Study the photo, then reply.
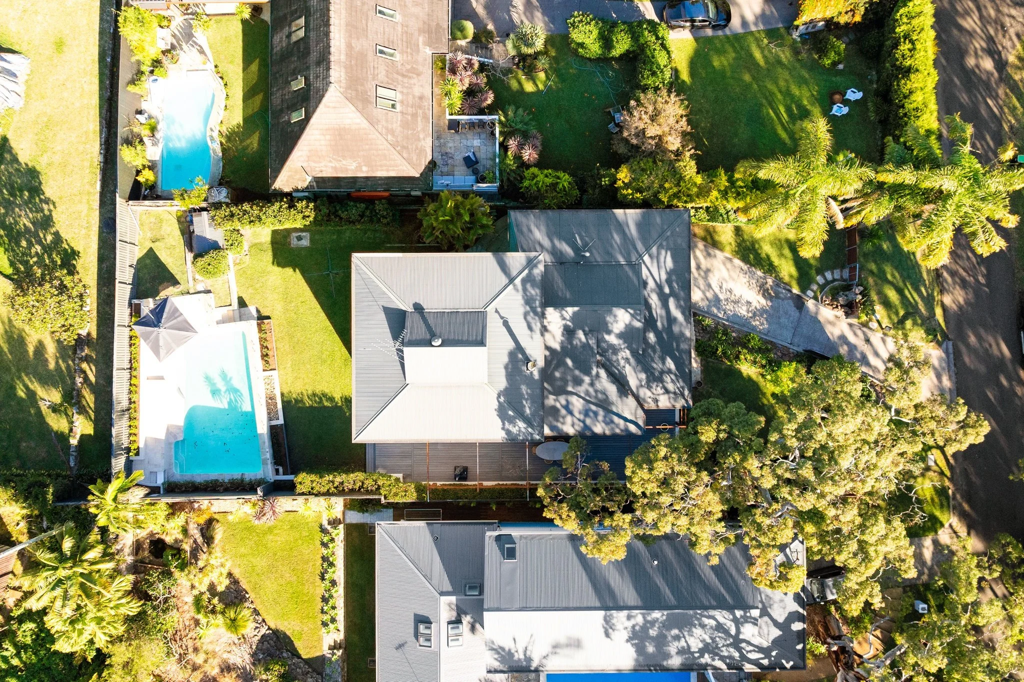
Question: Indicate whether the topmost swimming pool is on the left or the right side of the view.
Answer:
left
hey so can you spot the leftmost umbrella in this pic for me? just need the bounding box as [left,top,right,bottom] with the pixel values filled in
[132,296,199,362]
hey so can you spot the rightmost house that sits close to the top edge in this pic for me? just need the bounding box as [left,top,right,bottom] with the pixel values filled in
[268,0,451,194]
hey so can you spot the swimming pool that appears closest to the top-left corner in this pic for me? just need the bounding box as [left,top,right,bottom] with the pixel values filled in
[155,65,220,196]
